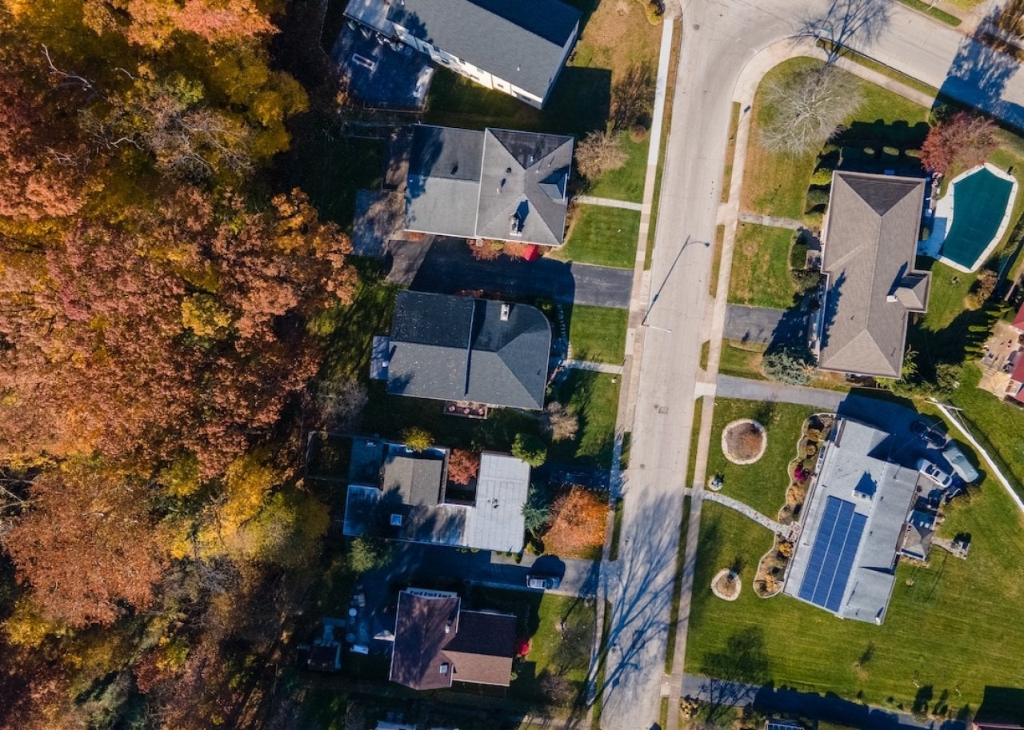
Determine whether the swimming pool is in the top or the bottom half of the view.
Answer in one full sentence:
Seen from above, the swimming pool lies in the top half of the view.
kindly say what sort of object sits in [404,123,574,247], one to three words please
house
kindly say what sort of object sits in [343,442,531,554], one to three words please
house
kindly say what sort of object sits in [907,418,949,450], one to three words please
car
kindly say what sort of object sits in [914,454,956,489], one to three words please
car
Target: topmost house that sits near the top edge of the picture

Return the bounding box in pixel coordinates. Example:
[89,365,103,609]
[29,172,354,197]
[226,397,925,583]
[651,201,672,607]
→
[342,0,584,107]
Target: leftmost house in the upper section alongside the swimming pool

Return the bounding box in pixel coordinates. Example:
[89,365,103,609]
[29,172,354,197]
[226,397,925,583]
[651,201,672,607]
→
[813,167,935,380]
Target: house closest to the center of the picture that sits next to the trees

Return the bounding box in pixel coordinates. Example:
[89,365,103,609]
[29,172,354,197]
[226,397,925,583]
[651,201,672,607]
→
[369,289,552,411]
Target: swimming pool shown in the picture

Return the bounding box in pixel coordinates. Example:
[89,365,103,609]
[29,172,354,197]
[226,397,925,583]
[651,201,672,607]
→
[918,161,1019,276]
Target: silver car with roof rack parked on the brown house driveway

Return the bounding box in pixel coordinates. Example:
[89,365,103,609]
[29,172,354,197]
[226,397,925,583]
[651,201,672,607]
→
[526,573,563,592]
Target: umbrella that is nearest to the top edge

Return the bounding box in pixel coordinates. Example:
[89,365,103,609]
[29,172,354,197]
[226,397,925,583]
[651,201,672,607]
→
[524,247,539,262]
